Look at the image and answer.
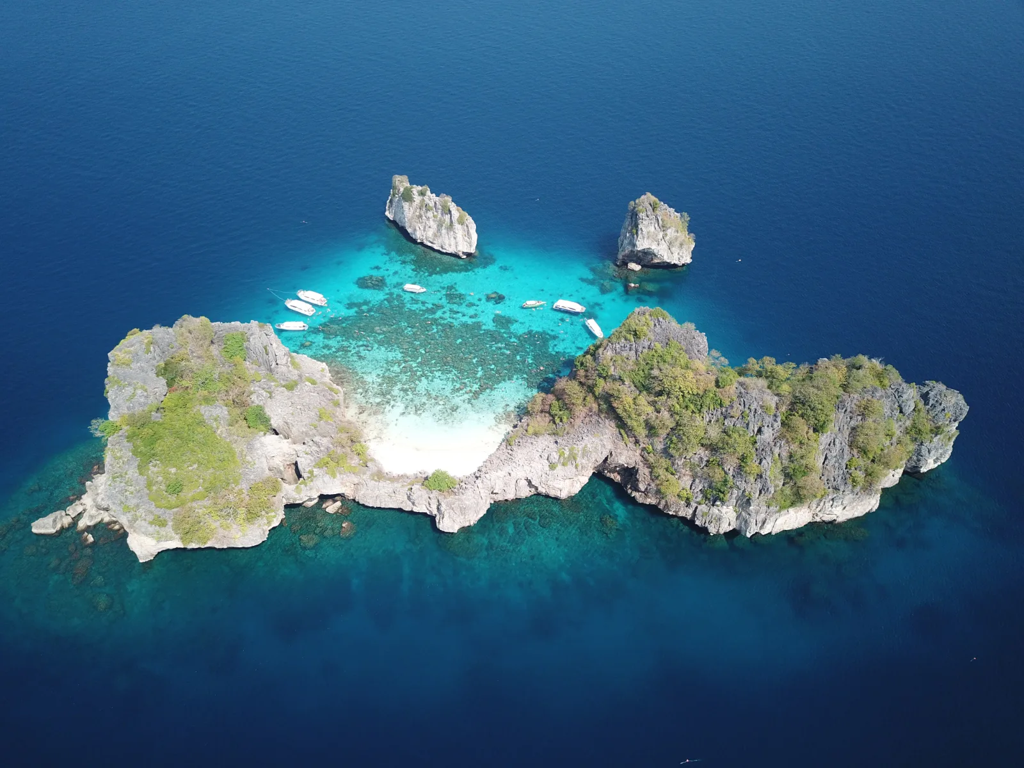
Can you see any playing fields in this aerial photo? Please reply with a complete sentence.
No, I can't see a single playing field in this photo.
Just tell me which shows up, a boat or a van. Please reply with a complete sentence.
This aerial view contains a boat.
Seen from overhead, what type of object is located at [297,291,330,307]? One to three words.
boat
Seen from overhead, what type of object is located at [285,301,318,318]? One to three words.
boat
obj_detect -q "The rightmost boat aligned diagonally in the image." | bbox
[584,317,602,337]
